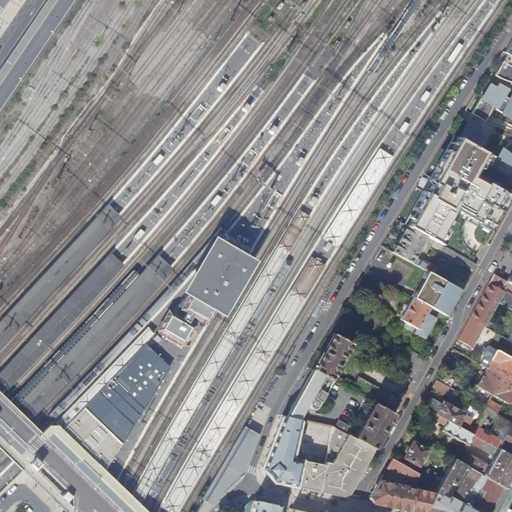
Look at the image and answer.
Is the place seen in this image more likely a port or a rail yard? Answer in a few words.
rail yard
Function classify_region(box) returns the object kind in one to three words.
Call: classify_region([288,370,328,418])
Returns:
building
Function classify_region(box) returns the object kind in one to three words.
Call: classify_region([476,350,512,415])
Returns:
house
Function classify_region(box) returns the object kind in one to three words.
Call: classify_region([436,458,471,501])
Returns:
house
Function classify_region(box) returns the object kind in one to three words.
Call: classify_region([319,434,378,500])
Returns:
building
